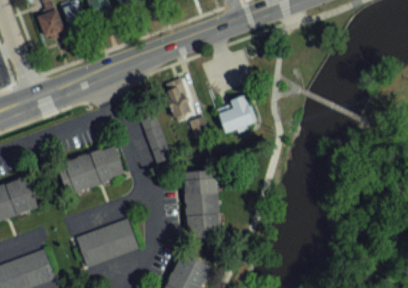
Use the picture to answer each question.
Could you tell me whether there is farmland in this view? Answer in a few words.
No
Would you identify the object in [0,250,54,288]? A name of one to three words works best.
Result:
building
